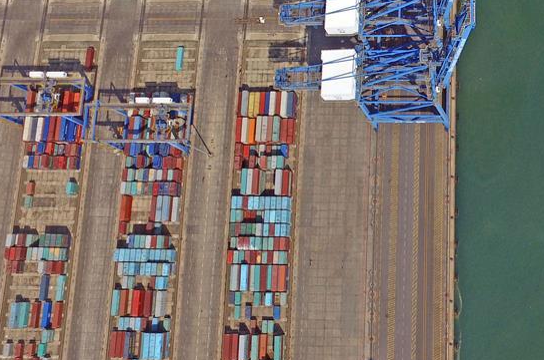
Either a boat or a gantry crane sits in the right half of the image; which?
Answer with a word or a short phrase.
gantry crane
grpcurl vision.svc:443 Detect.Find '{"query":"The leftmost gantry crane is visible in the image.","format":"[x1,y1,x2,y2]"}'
[0,69,101,130]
